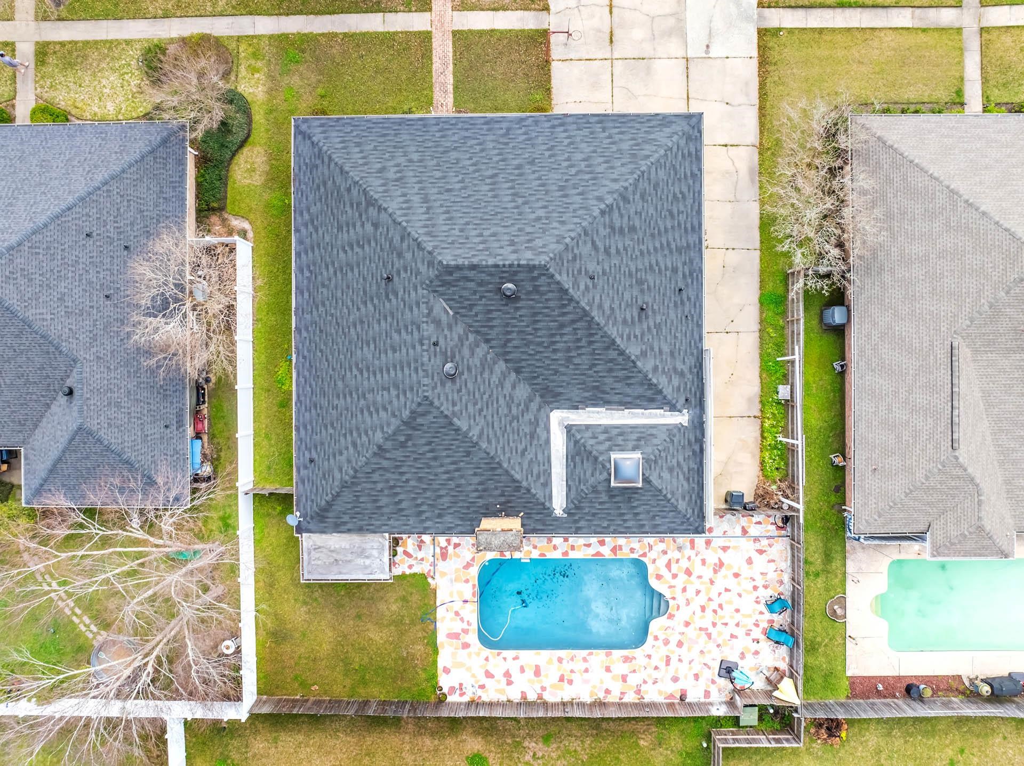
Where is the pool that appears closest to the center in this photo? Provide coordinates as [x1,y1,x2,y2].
[473,553,674,655]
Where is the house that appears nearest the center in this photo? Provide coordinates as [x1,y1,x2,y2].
[286,112,713,583]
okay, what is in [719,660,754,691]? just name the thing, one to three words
umbrella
